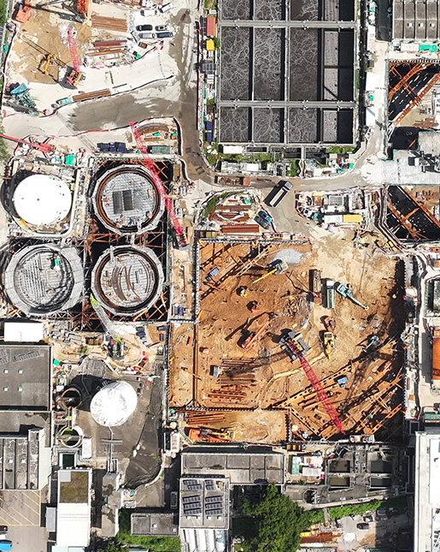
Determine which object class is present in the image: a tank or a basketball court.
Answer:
tank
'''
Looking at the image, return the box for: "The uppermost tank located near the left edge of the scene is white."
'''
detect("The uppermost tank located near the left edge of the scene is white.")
[11,169,81,230]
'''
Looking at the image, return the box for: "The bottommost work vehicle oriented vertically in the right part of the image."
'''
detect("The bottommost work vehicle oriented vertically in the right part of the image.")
[322,330,335,358]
